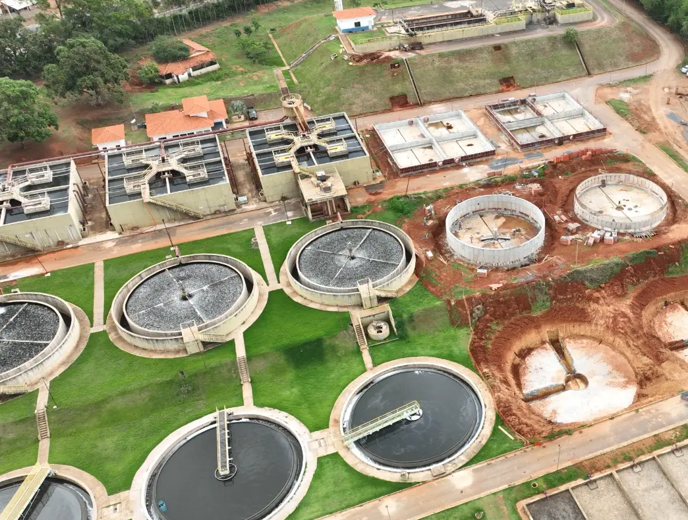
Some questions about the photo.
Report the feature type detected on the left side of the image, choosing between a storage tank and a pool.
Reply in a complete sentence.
The feature located on the left side of the image is a storage tank.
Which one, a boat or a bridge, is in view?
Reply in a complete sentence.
Looking from above, you can make out a bridge.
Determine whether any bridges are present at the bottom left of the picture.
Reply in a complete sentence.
Yes, there is a bridge at the bottom left of the picture.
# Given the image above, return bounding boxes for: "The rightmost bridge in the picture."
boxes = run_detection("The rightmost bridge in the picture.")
[338,404,416,455]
